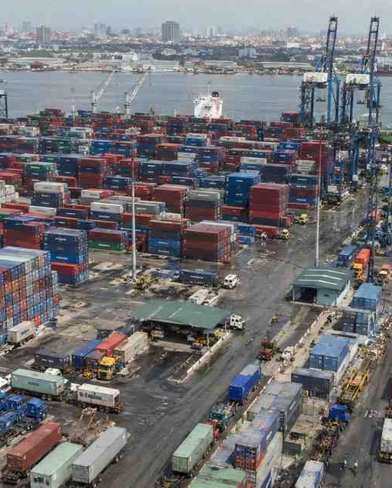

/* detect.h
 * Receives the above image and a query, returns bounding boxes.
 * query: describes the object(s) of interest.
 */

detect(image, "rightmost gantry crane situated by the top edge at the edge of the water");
[340,11,386,155]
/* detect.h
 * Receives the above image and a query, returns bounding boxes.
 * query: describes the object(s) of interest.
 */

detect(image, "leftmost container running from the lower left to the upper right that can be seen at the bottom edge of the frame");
[13,422,61,474]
